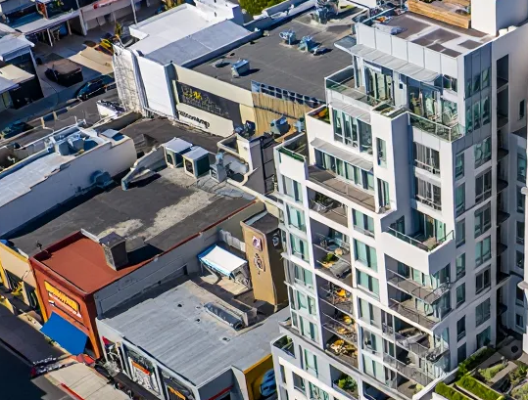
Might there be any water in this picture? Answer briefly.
No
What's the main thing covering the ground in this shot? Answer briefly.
buildings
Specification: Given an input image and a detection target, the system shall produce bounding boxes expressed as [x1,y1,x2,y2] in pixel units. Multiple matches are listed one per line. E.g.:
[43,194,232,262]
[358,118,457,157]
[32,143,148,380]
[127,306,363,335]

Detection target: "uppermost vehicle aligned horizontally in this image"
[44,56,82,78]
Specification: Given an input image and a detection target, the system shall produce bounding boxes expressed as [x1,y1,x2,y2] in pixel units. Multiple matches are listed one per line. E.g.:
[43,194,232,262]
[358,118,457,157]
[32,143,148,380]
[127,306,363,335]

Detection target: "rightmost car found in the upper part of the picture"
[80,79,116,96]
